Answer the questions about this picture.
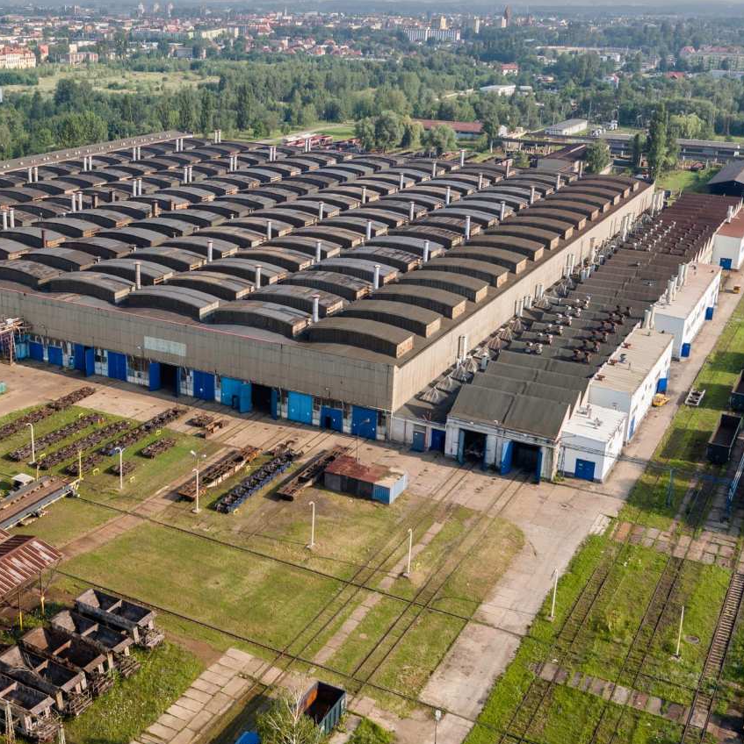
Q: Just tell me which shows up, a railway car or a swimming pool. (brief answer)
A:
railway car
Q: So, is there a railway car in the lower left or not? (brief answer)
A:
Yes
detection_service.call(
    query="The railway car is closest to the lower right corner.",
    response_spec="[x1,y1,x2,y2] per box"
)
[705,414,742,465]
